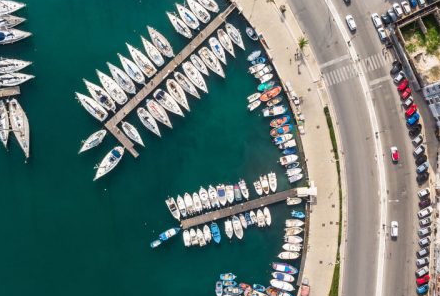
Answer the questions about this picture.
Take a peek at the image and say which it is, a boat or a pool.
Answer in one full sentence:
There is a boat in the scene.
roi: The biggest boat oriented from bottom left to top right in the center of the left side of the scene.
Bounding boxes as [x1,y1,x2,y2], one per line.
[92,144,126,181]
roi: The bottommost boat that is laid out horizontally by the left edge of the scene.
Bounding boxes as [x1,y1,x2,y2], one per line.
[0,70,35,87]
